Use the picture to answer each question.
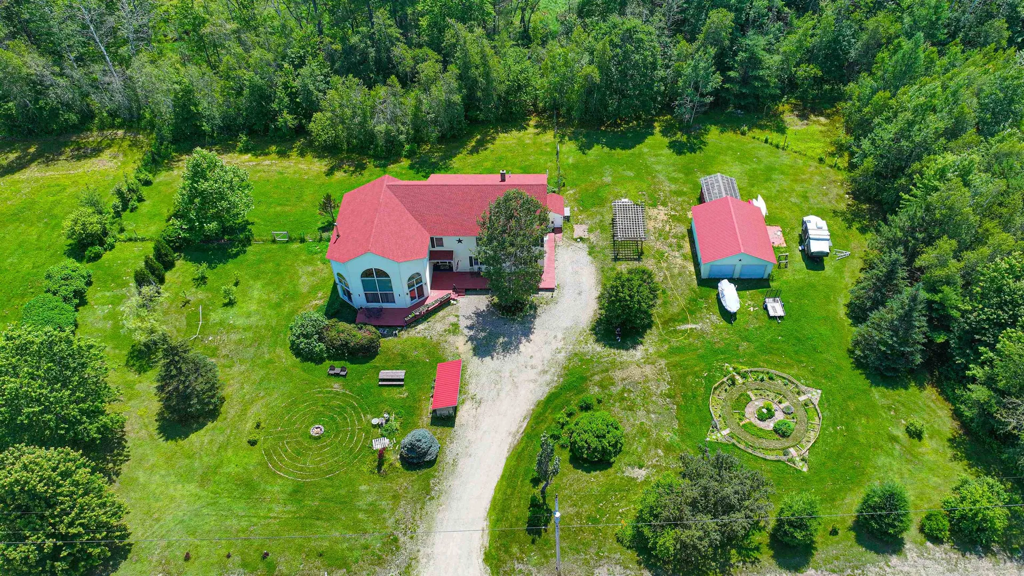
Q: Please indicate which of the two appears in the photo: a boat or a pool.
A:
boat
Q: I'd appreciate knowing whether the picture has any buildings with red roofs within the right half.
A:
Yes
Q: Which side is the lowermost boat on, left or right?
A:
right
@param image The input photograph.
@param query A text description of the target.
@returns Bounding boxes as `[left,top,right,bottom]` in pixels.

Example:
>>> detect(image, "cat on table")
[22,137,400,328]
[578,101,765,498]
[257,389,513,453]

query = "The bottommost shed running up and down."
[433,359,462,416]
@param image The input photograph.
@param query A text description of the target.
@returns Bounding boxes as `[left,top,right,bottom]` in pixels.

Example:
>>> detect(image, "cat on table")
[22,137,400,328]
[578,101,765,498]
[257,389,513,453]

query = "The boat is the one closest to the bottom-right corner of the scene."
[714,275,740,322]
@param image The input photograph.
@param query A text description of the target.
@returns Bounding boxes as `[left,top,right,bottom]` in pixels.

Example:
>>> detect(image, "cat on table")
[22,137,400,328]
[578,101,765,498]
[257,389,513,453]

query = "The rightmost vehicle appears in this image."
[803,211,834,265]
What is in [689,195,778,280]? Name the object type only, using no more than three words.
building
